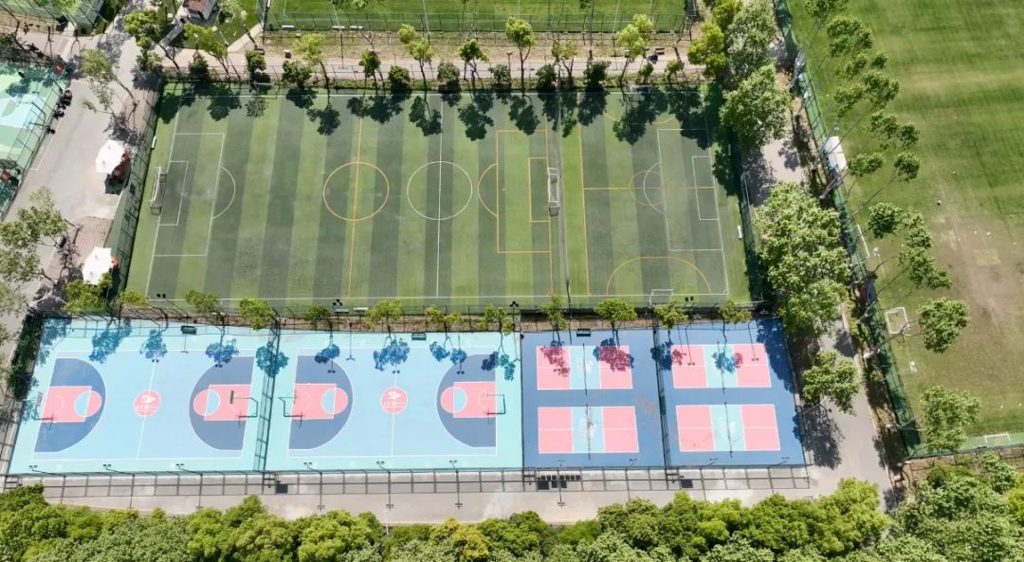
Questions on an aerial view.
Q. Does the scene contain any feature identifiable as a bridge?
No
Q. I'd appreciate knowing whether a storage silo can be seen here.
No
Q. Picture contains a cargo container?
No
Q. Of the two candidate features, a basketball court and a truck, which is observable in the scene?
basketball court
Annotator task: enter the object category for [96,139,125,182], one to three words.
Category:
tent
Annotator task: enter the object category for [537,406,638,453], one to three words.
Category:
sports court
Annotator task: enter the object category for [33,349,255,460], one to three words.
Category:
basketball court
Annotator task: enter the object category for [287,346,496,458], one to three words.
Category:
basketball court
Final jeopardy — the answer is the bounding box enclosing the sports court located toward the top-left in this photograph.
[0,66,70,223]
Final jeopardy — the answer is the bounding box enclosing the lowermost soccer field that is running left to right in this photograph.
[121,84,750,314]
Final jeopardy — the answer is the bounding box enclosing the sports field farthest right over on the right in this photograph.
[785,0,1024,457]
